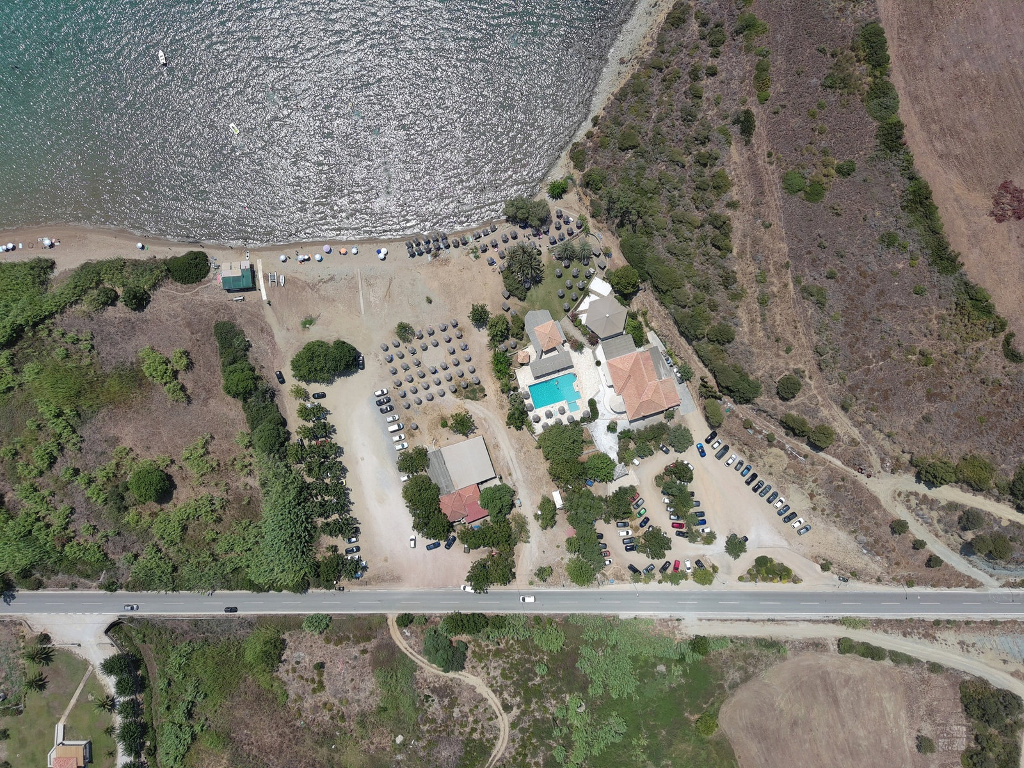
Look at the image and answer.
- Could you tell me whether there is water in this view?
Yes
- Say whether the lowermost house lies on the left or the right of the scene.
left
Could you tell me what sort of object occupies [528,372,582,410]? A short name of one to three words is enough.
swimming pool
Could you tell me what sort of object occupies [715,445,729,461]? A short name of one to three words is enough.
vehicle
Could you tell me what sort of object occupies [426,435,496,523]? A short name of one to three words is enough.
building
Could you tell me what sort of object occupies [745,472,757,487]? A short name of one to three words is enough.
vehicle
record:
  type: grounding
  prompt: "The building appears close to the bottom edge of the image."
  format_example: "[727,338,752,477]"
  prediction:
[48,721,96,768]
